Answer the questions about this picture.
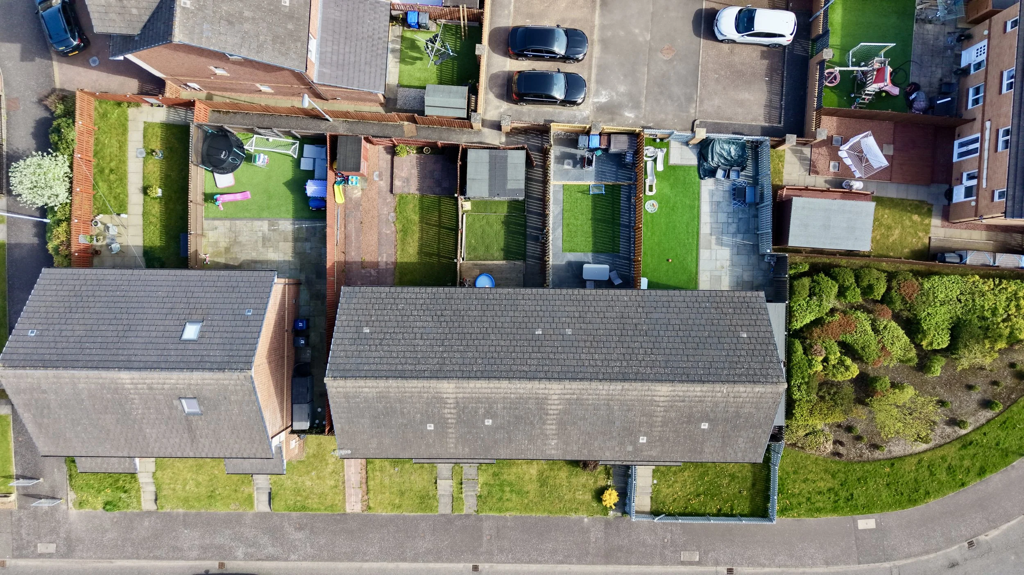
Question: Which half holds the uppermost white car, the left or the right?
right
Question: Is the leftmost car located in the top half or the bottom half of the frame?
top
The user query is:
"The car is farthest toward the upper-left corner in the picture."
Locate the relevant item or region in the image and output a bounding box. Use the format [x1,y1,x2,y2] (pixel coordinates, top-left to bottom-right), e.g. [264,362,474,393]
[37,0,90,60]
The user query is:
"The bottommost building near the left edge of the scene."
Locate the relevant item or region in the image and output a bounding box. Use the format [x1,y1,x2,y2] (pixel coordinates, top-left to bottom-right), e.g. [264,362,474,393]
[0,268,302,477]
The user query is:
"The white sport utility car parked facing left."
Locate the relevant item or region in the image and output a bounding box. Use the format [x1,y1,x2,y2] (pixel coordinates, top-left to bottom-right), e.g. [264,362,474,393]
[715,6,792,47]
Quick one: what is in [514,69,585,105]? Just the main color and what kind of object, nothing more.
black car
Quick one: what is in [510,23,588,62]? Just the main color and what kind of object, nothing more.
black car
